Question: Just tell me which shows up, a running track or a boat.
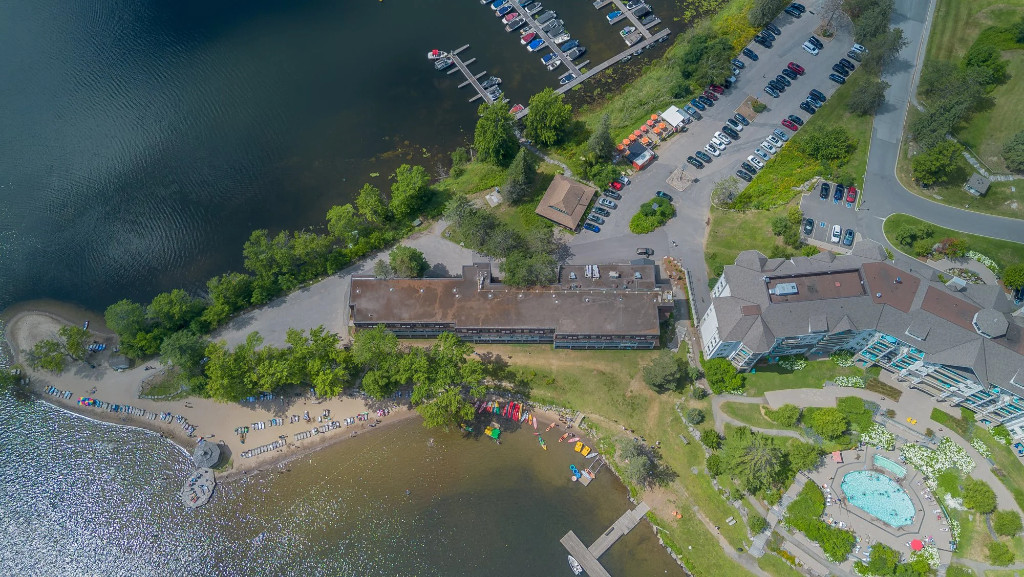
boat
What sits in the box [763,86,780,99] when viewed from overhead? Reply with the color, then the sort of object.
blue vehicle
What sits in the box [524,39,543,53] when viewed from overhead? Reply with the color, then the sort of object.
blue boat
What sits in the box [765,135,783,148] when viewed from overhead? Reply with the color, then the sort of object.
white vehicle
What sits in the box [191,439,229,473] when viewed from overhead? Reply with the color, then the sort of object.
gray gazebo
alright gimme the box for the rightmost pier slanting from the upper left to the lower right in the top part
[613,0,653,40]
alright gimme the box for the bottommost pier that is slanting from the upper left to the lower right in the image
[559,528,620,577]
